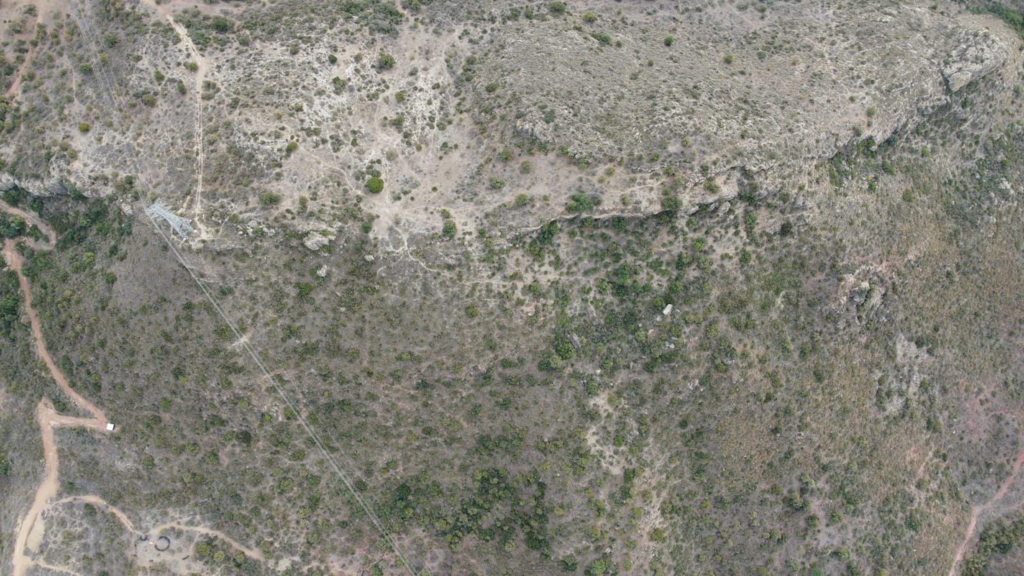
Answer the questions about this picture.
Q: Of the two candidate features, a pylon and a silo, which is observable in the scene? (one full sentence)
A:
The image shows a pylon.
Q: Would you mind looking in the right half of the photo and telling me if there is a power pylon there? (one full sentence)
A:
No, I see no power pylon in the right half of the photo.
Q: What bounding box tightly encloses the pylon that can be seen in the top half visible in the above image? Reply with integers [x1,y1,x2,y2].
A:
[147,206,198,240]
